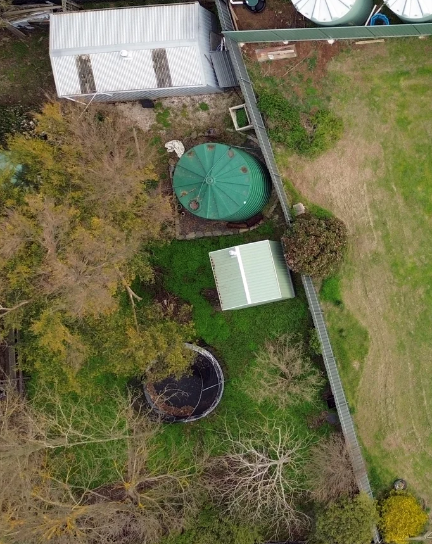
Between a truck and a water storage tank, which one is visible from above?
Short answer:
water storage tank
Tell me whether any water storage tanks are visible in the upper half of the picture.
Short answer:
Yes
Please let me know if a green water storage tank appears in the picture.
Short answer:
Yes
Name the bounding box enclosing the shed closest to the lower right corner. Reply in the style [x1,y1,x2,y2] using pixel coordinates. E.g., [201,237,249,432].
[209,239,292,311]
